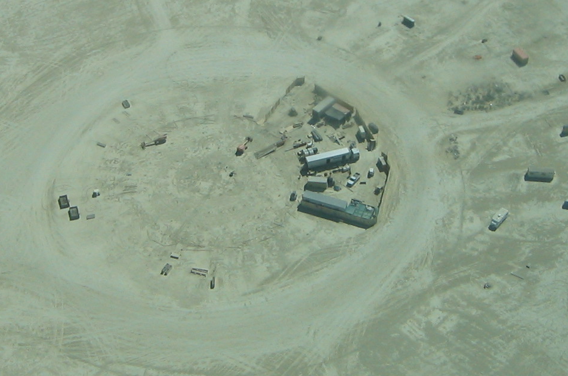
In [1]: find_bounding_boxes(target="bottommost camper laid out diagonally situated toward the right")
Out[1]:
[488,207,510,232]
